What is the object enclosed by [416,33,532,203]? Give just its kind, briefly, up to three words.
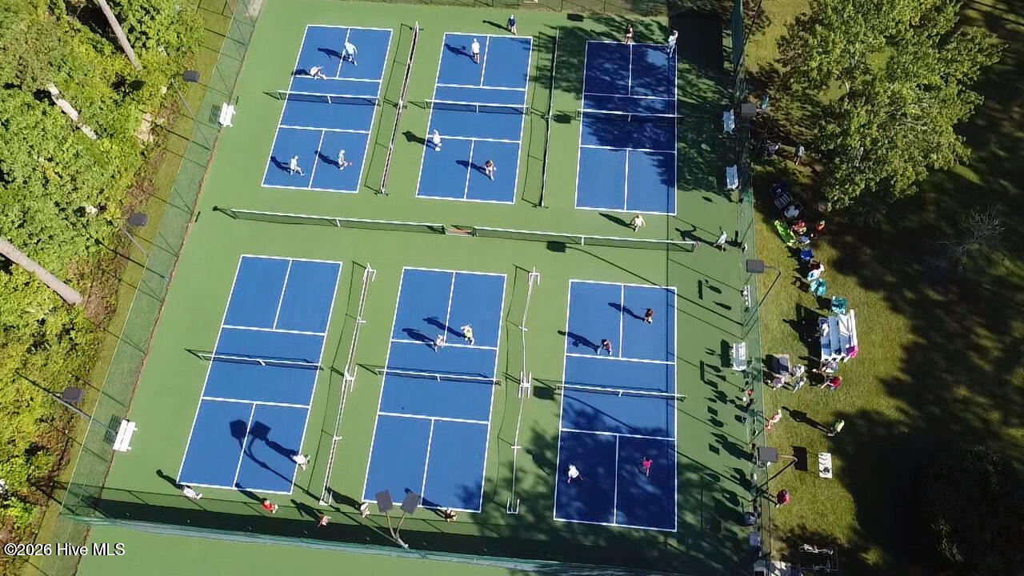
sports court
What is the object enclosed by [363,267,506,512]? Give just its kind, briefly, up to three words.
sports court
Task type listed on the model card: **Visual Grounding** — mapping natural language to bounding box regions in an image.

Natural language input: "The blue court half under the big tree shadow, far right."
[576,41,676,215]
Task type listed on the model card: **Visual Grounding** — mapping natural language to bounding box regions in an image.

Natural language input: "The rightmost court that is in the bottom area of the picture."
[554,280,676,531]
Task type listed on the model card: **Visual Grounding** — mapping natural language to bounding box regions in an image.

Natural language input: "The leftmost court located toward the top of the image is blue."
[262,25,392,192]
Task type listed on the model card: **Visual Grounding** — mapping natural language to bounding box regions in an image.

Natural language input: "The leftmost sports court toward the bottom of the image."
[178,255,342,494]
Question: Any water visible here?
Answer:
No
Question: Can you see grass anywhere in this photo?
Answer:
Yes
